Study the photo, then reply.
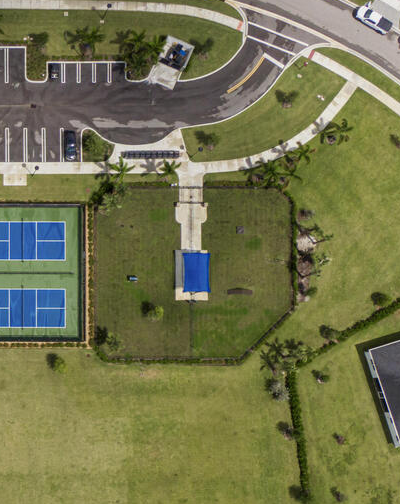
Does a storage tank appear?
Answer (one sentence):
No, I can't see a single storage tank in this photo.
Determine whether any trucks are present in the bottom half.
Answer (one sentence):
No, no truck can be made out in the bottom half.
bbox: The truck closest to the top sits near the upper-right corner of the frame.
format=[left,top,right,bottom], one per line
[355,4,395,35]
